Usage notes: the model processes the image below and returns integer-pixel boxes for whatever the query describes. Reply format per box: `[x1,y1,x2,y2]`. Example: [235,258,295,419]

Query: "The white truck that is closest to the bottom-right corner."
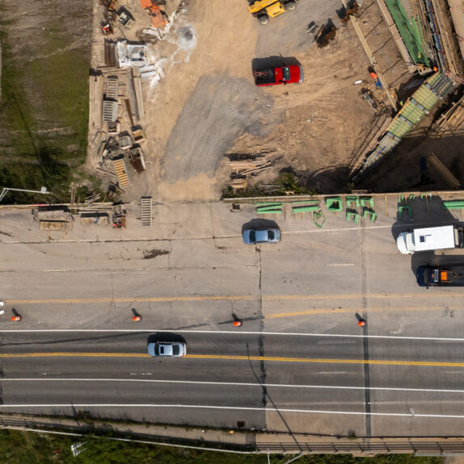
[397,227,464,253]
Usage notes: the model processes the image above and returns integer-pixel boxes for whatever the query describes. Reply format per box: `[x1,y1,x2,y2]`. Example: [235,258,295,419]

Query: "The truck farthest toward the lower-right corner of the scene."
[418,264,464,288]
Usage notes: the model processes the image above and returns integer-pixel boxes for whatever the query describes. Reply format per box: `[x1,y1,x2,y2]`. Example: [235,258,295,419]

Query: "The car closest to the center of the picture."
[243,225,283,243]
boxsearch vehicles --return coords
[253,63,305,86]
[243,225,283,243]
[418,264,464,288]
[250,0,299,21]
[397,227,464,253]
[149,340,189,359]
